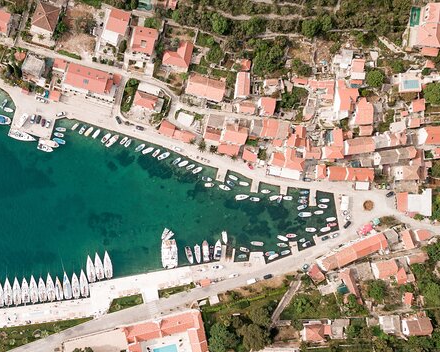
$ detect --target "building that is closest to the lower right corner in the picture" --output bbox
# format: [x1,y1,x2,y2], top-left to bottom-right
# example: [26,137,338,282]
[401,316,433,336]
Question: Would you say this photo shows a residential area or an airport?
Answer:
residential area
